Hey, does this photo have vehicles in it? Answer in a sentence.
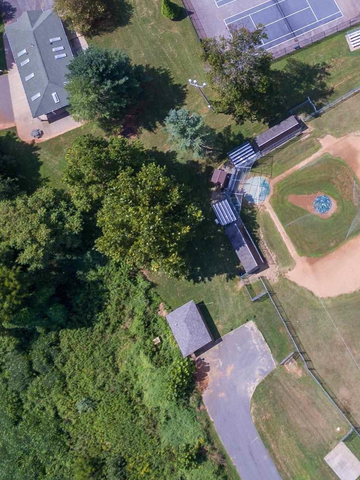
No, I can see no vehicle in this picture.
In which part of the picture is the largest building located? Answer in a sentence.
The largest building appears toward the top left of the photo.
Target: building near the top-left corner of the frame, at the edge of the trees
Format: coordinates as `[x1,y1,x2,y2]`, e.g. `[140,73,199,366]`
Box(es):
[5,9,82,121]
